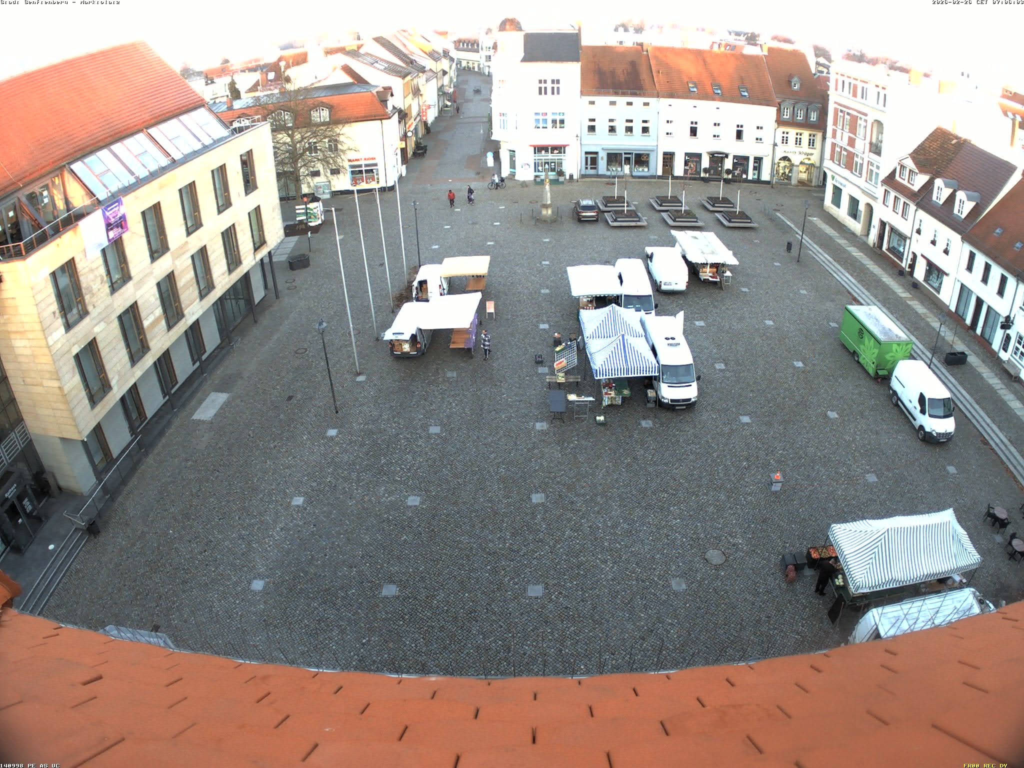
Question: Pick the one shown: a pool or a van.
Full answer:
This aerial view contains a van.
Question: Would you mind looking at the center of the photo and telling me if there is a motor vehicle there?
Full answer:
Yes, you'll find a motor vehicle at the center of the photo.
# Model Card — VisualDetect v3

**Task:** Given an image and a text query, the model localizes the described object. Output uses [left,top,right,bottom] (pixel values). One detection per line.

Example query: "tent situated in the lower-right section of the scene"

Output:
[822,509,983,630]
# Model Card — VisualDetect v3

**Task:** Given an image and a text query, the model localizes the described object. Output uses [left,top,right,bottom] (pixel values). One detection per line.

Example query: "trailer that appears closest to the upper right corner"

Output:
[839,301,916,375]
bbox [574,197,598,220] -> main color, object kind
gray car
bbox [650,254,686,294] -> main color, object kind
white van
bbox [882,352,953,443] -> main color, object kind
white van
